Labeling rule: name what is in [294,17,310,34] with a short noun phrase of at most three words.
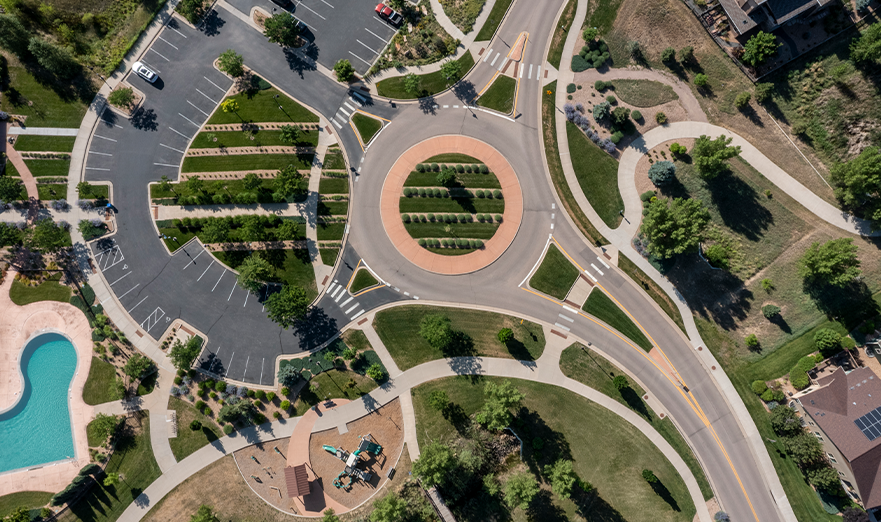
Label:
car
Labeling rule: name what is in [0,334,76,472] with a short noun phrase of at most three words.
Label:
swimming pool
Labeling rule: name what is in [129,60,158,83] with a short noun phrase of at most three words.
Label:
car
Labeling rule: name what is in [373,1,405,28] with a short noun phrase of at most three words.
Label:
truck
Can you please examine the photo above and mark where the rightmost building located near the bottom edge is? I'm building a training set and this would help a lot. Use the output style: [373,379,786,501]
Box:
[782,350,881,508]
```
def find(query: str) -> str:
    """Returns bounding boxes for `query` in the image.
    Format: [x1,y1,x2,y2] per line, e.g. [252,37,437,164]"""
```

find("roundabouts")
[356,109,547,300]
